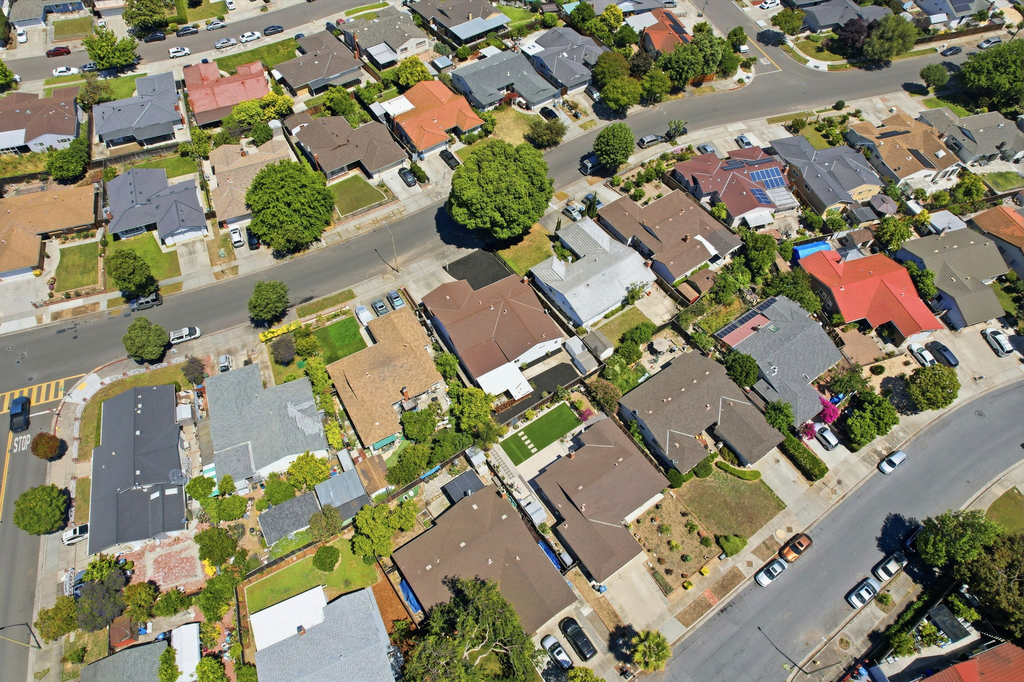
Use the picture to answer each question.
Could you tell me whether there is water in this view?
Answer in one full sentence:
No, there's no water in this view.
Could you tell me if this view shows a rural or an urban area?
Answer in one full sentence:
The area shown here is urban.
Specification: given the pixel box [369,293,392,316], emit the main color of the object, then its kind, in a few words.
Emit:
gray car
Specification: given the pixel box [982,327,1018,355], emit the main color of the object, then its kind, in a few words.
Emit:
white car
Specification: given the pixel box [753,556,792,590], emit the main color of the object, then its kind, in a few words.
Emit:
white car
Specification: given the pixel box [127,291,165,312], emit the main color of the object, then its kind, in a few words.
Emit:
gray car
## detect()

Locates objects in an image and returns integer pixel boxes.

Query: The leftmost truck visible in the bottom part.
[7,394,30,432]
